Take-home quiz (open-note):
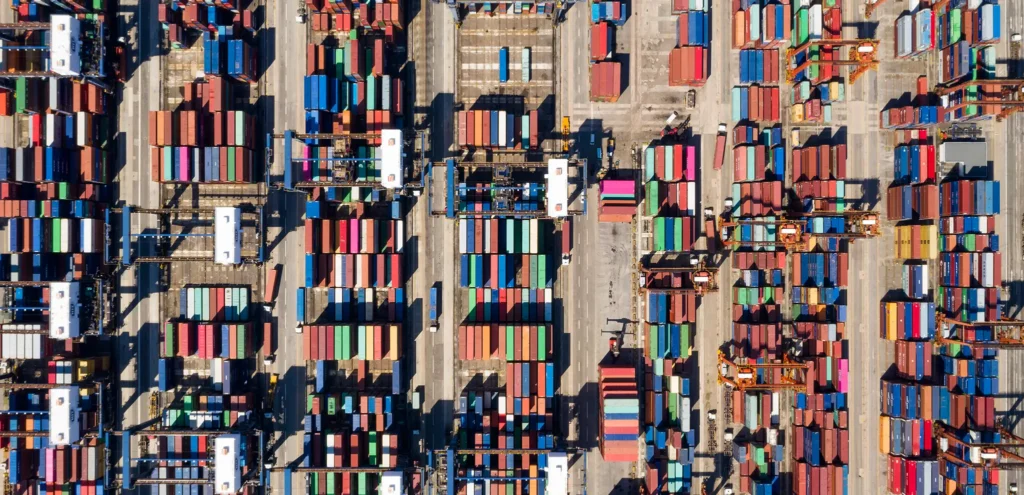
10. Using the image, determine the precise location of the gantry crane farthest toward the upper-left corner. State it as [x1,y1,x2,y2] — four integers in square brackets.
[0,13,107,85]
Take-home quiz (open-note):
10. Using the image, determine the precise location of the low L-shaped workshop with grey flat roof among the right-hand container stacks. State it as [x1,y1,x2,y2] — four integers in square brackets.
[939,142,987,177]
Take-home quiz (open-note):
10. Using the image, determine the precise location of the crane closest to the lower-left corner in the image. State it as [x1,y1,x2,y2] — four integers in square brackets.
[0,367,107,446]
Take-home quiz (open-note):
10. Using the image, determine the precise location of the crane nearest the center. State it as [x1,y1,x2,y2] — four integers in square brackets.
[426,157,585,228]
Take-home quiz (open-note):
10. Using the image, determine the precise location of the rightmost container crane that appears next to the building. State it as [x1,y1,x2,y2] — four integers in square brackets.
[934,76,1024,122]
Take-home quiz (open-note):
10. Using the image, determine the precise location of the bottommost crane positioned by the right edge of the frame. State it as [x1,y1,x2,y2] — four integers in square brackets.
[936,422,1024,468]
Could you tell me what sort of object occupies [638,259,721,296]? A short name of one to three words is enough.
container crane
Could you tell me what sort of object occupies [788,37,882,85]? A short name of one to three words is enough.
container crane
